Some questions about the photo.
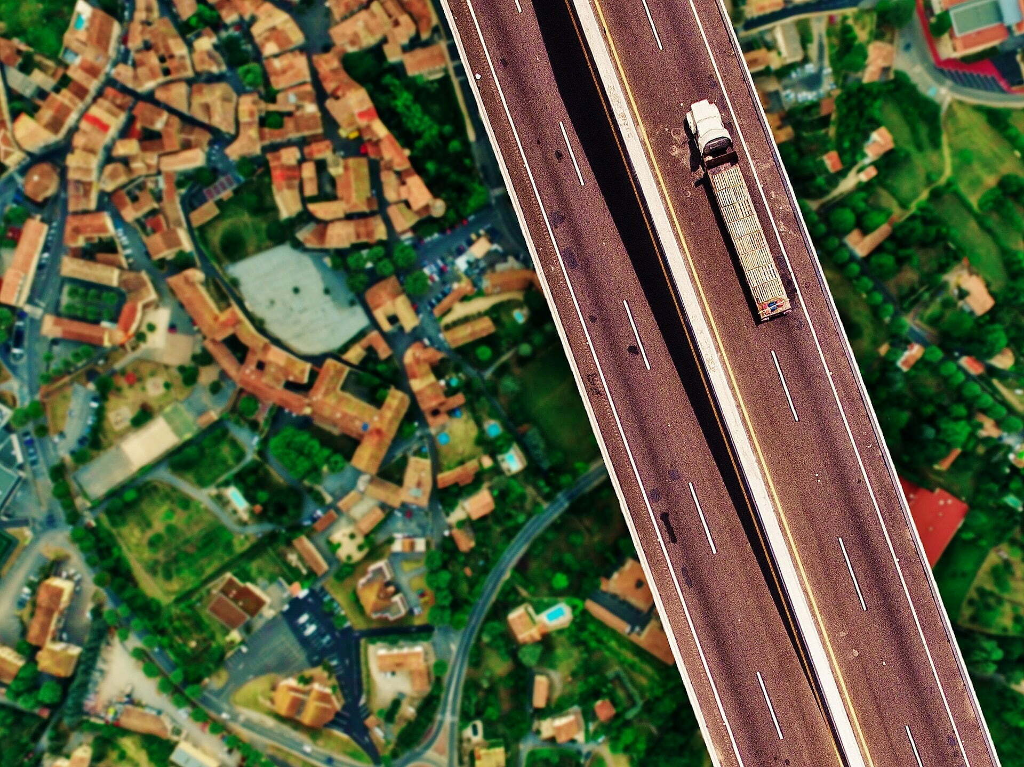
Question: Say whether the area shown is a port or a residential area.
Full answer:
This image shows a residential area.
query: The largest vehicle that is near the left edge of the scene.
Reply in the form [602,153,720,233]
[14,324,27,350]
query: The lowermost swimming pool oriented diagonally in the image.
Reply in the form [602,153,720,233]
[544,605,567,623]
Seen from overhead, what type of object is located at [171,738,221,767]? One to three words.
house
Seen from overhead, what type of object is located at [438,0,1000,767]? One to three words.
bridge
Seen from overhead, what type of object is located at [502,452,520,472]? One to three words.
swimming pool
